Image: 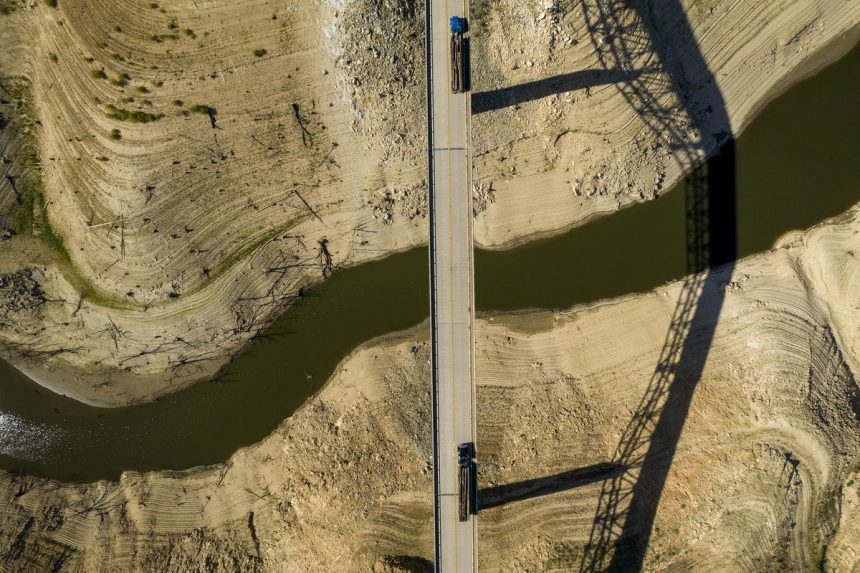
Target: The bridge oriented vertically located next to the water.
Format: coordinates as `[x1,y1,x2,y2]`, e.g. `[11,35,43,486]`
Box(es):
[425,0,480,573]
